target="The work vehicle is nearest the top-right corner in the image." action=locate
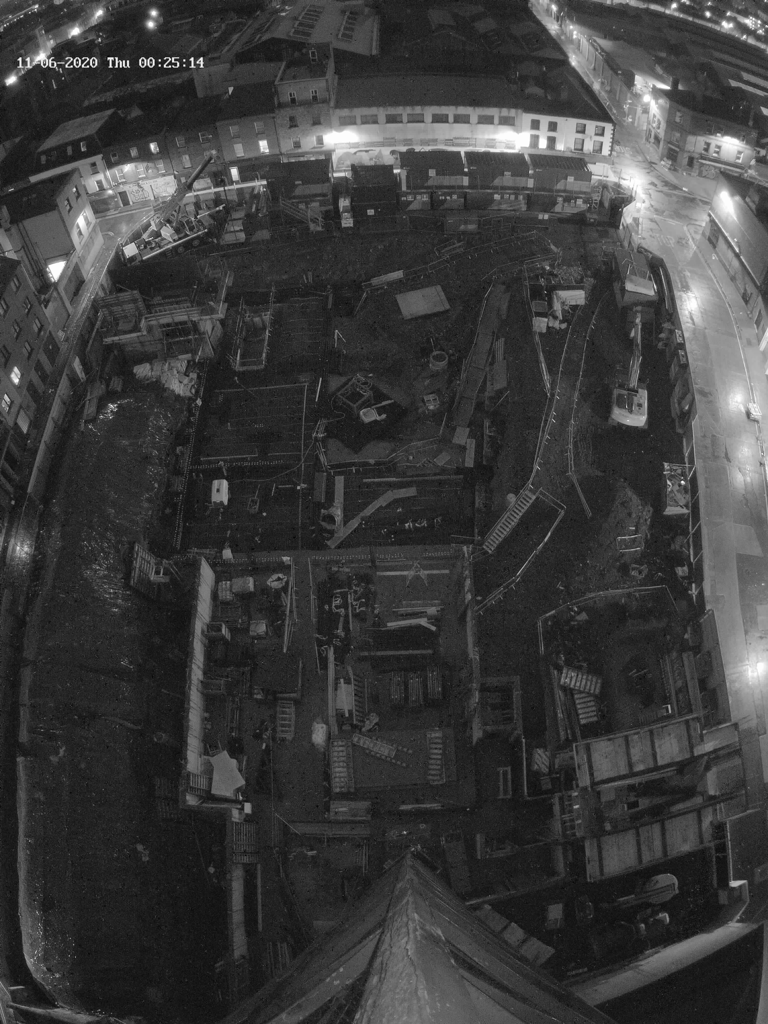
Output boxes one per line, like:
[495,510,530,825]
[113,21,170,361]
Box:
[607,307,650,437]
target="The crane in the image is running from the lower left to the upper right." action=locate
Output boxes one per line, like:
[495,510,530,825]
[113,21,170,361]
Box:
[103,144,234,278]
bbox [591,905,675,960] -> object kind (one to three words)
truck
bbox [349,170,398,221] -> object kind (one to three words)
building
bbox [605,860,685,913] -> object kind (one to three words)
work vehicle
